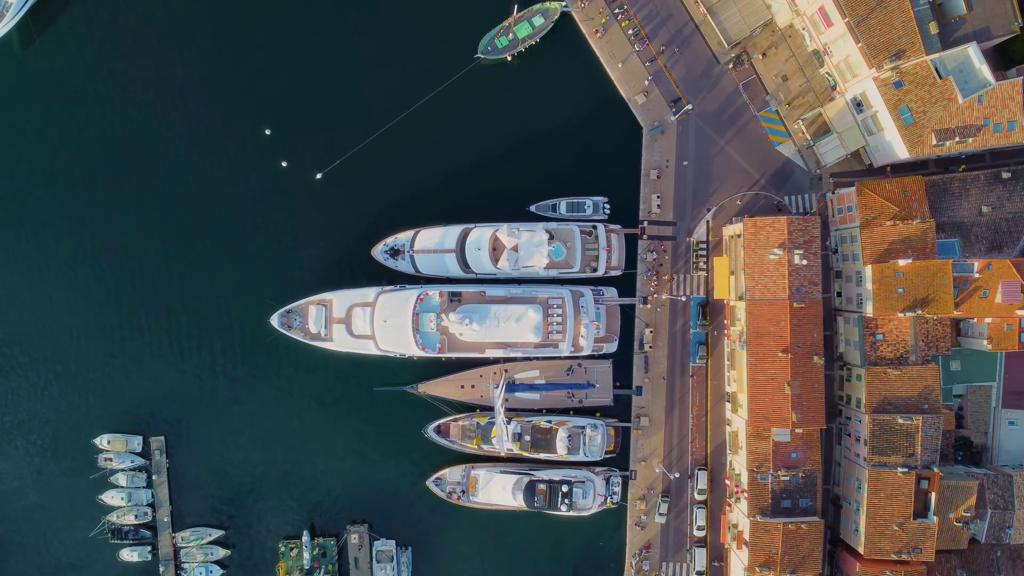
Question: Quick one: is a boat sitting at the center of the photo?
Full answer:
Yes, a boat can be seen at the center of the photo.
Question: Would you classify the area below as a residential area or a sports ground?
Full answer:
This image shows a residential area.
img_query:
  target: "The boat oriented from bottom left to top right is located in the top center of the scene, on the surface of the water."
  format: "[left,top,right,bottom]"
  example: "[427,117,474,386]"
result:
[473,1,566,60]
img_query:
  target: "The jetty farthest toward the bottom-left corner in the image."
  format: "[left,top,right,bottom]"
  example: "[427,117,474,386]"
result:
[147,436,176,576]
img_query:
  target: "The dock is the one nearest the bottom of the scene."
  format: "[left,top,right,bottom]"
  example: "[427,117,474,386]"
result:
[347,520,373,576]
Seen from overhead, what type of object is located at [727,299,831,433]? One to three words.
house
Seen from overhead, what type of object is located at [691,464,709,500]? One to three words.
car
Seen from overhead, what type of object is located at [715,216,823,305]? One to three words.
house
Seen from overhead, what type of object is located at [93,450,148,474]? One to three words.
boat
